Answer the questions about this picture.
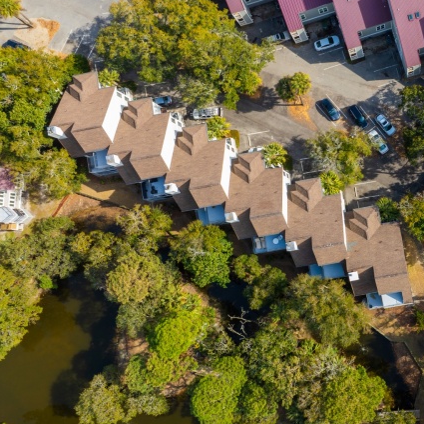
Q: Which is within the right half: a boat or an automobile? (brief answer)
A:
automobile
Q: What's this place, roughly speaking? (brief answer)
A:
residential area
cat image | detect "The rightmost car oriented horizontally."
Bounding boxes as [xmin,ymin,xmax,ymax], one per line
[315,37,341,52]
